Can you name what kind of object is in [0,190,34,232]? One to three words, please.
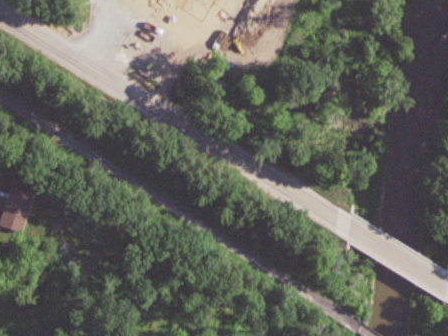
house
